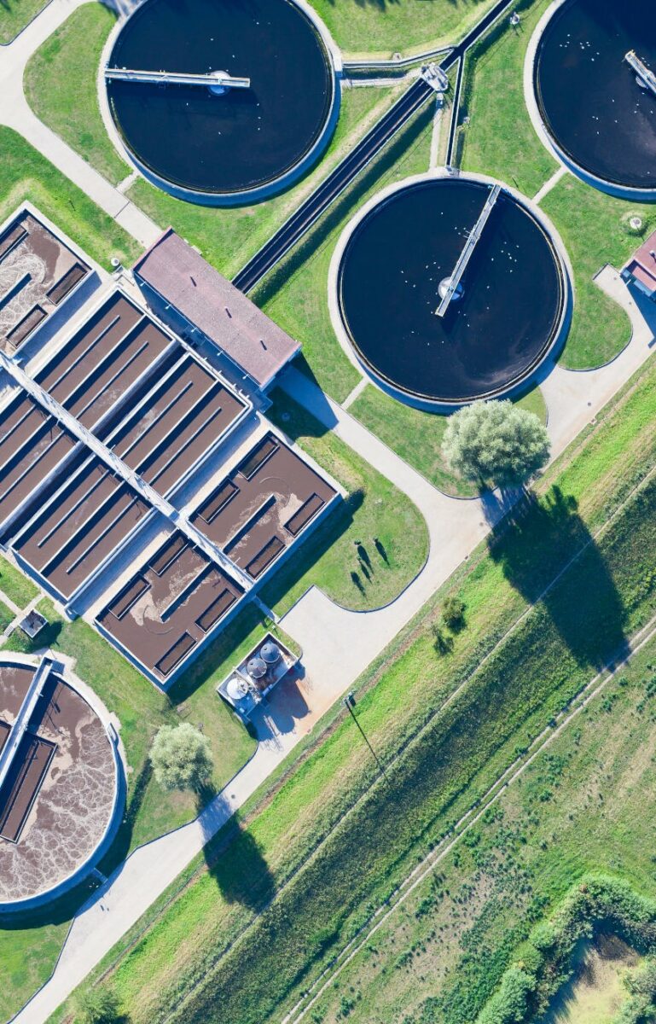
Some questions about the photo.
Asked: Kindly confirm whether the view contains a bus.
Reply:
No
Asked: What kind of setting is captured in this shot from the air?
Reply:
industrial area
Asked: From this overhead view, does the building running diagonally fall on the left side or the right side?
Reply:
left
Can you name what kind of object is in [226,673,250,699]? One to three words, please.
silo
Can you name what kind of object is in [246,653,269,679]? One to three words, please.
silo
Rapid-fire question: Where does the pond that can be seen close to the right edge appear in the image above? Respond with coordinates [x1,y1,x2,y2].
[540,927,633,1024]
